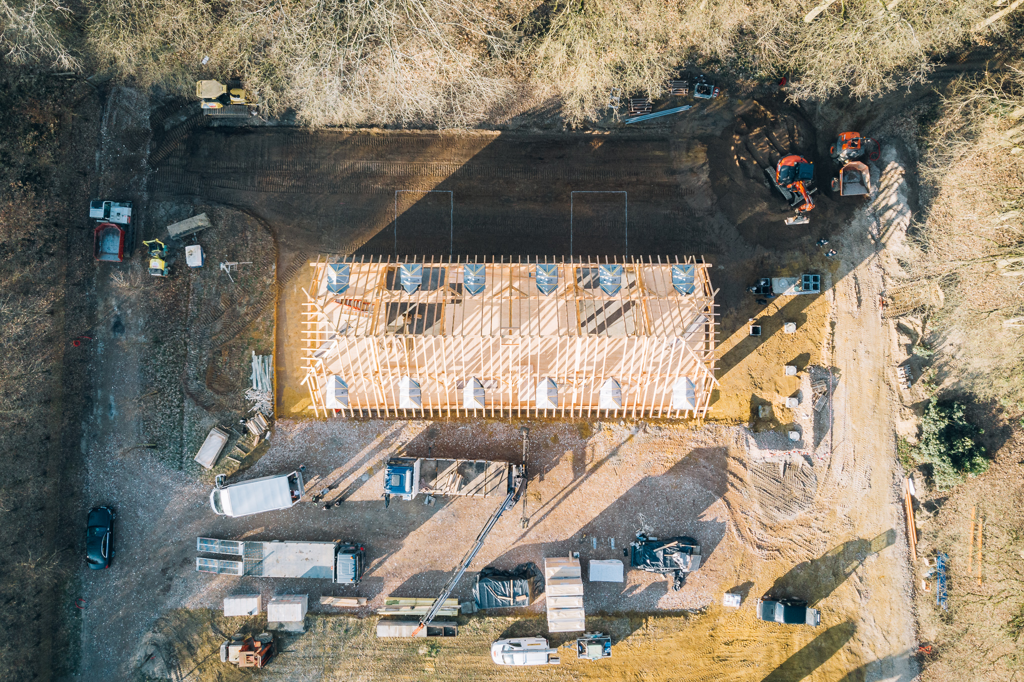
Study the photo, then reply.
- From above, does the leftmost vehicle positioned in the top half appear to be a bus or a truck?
truck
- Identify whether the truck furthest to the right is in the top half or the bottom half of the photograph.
top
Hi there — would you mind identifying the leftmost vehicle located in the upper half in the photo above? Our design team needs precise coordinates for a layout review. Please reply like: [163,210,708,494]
[84,200,144,263]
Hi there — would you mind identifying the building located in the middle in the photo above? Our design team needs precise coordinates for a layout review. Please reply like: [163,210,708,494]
[300,256,721,421]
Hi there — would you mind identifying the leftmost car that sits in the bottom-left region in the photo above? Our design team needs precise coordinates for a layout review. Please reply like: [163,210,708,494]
[83,504,120,569]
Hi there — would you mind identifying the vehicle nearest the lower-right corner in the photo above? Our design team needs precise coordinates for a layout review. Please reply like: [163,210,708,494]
[750,590,824,628]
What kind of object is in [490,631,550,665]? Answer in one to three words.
van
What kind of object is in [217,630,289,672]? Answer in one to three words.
work vehicle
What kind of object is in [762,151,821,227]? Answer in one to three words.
work vehicle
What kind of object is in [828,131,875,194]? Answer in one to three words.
truck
